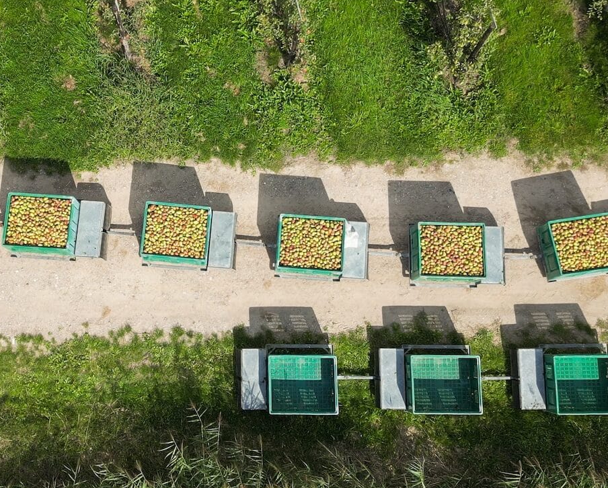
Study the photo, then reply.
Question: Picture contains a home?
No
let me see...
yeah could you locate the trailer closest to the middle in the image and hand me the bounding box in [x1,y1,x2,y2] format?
[237,215,372,282]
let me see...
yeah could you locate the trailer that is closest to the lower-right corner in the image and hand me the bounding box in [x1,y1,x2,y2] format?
[504,345,608,412]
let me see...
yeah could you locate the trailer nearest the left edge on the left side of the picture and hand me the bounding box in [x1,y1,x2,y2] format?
[0,199,114,262]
